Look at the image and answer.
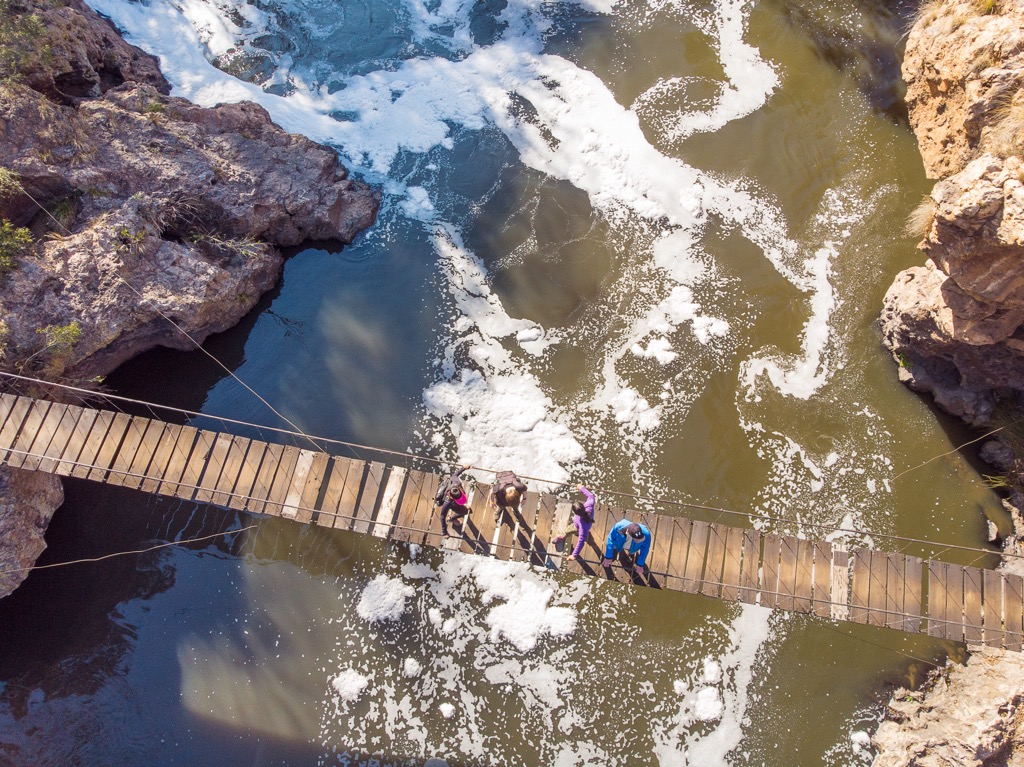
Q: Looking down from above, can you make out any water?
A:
Yes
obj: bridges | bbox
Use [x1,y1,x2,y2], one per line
[0,372,1024,655]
